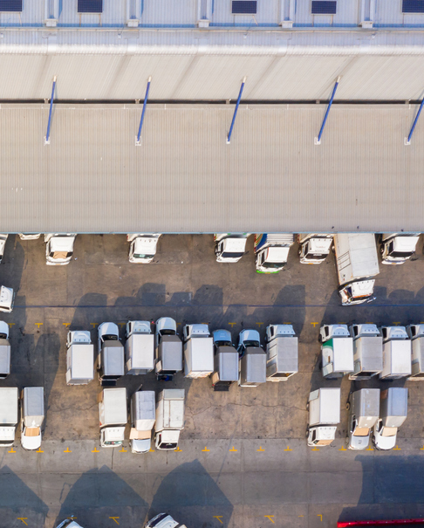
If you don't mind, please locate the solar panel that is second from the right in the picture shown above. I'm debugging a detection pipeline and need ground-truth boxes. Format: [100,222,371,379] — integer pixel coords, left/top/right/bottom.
[312,0,338,24]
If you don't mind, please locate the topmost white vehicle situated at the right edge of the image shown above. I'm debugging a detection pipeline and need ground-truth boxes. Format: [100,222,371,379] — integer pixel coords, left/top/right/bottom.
[381,235,417,266]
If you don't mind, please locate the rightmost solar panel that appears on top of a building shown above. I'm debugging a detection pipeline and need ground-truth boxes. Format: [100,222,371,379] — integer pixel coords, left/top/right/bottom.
[403,0,424,24]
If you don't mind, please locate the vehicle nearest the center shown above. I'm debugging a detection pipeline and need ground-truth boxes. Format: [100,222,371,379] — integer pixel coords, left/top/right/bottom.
[215,235,245,263]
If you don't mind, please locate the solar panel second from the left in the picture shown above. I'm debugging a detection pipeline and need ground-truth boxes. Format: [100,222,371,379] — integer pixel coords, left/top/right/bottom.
[77,0,103,23]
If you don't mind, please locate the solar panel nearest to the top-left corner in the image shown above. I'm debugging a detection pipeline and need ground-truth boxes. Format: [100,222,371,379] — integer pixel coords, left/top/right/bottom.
[0,0,23,23]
